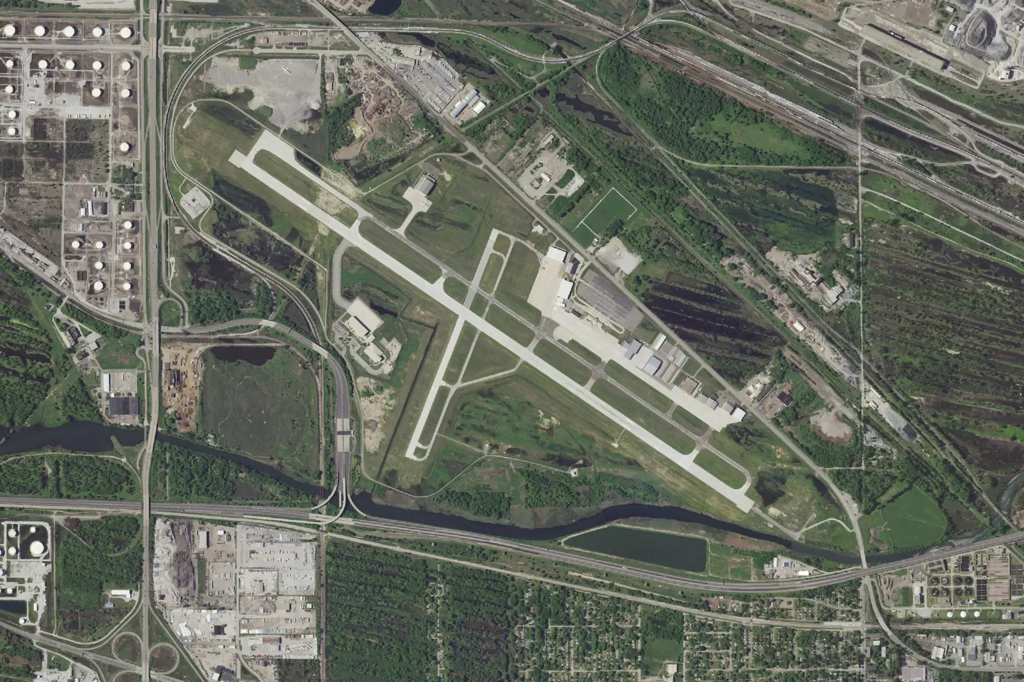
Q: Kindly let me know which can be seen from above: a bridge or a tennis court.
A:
bridge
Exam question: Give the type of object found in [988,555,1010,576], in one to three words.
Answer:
building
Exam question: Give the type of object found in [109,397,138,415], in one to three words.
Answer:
building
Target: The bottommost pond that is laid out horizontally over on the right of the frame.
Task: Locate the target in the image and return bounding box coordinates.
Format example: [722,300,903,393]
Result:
[565,526,707,573]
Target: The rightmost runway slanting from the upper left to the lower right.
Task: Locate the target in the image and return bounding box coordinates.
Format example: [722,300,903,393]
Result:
[240,157,744,503]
